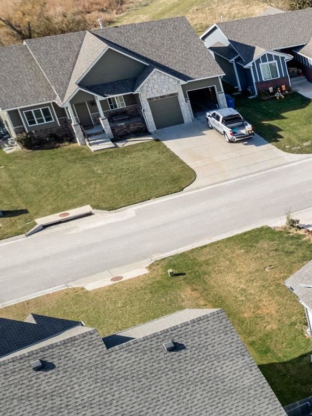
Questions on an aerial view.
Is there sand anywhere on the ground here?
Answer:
No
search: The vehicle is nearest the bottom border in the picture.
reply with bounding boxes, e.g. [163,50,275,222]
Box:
[205,110,250,138]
